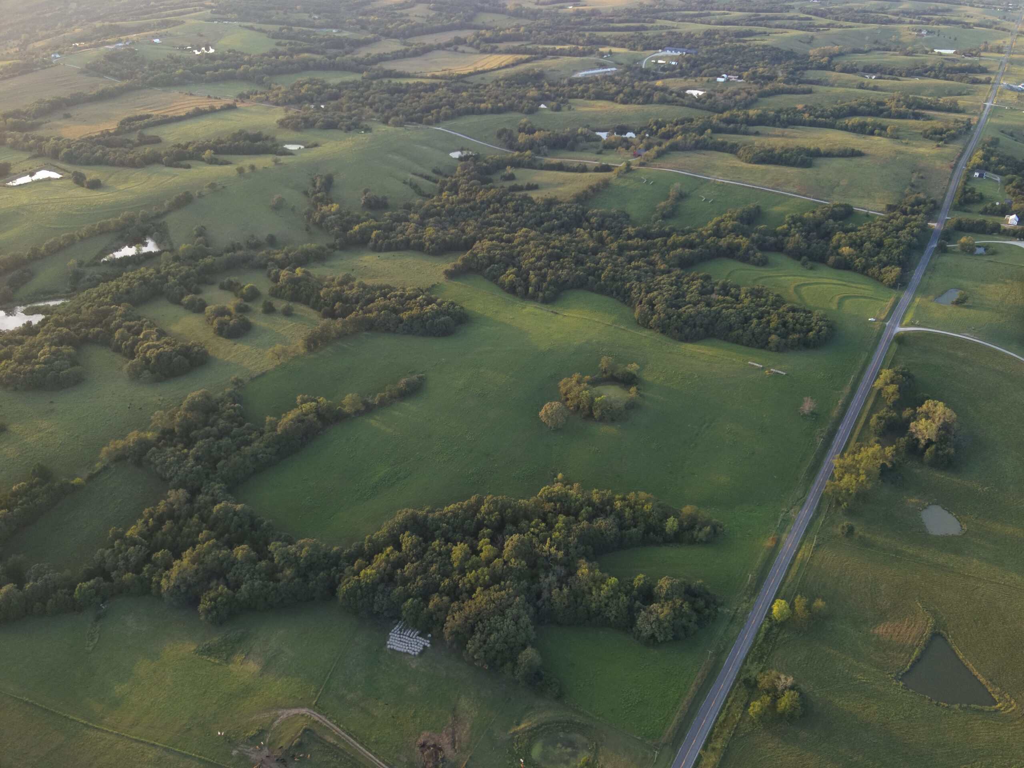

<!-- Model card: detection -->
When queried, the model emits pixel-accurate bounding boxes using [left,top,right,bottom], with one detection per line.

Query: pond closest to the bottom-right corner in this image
[902,635,995,705]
